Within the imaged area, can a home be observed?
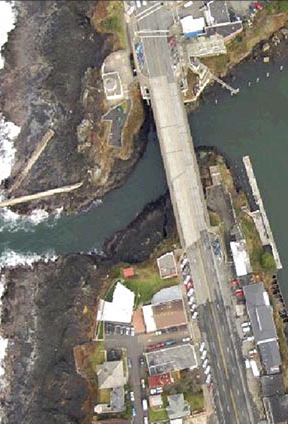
Yes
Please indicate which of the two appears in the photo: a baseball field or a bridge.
bridge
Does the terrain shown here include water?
Yes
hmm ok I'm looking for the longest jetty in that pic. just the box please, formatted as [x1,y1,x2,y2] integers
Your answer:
[244,155,282,269]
